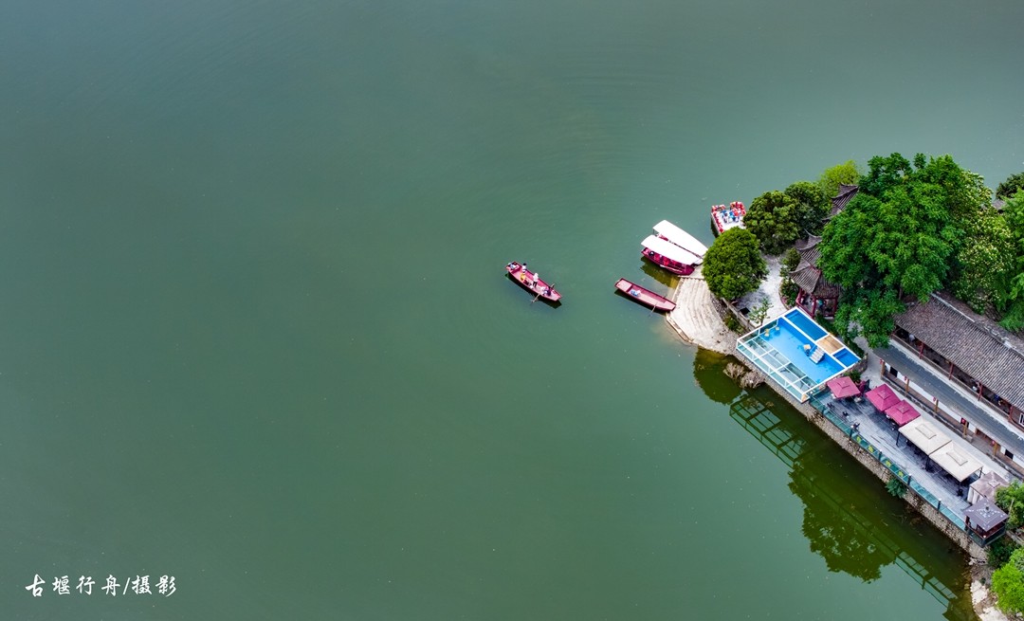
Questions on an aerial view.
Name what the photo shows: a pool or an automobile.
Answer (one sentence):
Visible in the photo is a pool.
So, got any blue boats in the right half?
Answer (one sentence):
No, the scene shows no blue boat in the right half.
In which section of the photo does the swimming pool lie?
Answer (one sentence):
Look in the right portion of the view to spot the swimming pool.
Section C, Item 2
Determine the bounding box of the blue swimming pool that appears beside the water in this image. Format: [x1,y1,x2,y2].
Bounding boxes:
[735,307,874,409]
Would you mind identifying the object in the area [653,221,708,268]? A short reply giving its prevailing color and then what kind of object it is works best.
white boat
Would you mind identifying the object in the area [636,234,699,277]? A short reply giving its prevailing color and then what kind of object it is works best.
white boat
